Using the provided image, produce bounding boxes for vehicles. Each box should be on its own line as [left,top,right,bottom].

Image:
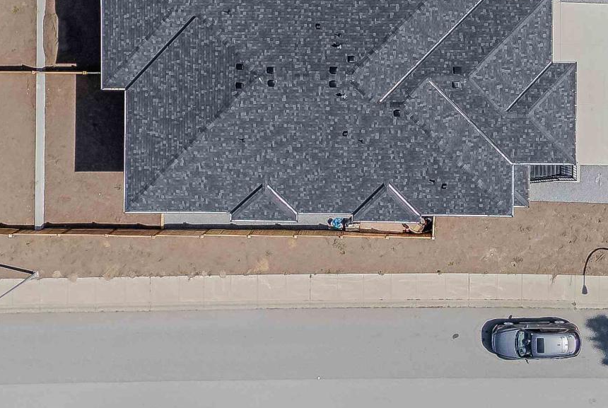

[490,320,580,366]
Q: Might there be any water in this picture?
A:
No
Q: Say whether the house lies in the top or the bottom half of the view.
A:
top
